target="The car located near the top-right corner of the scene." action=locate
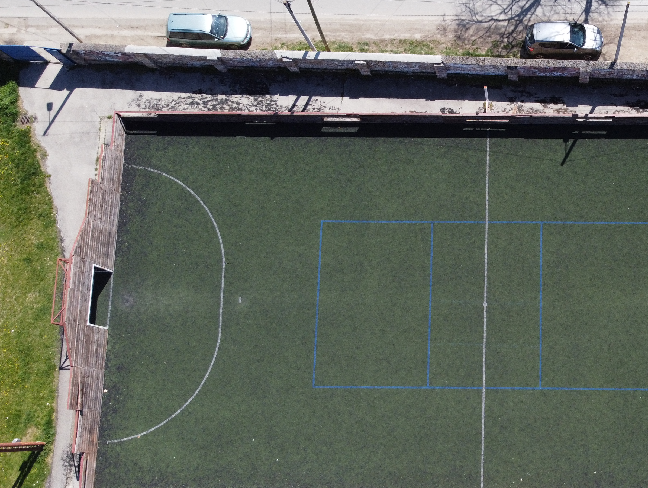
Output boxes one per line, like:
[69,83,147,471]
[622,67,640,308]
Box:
[526,19,600,60]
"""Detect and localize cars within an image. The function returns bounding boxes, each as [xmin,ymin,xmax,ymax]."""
[162,8,250,49]
[526,19,600,60]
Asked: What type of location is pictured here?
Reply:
sports ground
